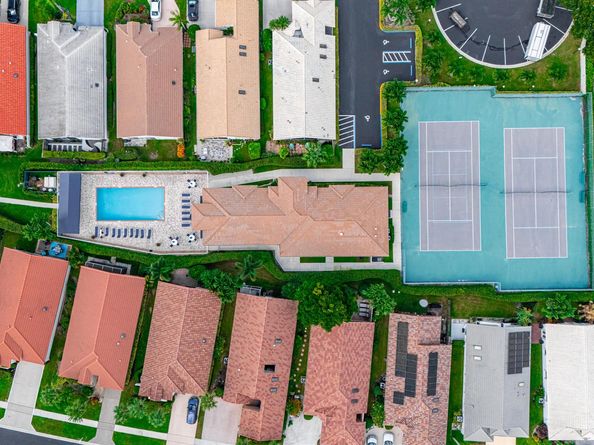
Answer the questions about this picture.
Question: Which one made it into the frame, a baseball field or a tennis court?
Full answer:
Visible in the photo is a tennis court.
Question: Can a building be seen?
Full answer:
Yes, a building is visible in the scene.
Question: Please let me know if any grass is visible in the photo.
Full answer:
Yes, some grass is visible.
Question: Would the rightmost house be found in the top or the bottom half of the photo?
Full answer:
You can find the rightmost house in the bottom half.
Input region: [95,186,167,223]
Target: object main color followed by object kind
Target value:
blue swimming pool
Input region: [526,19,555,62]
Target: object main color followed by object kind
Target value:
white trailer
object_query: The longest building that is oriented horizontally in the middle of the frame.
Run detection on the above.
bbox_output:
[191,176,390,258]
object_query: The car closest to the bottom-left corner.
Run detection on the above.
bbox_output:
[186,396,200,424]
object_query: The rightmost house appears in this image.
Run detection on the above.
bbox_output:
[541,323,594,442]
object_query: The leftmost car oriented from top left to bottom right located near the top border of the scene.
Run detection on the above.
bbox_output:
[449,8,472,34]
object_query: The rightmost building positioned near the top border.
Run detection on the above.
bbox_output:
[273,1,336,139]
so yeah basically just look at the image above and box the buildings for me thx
[195,0,260,138]
[116,20,184,138]
[303,322,375,445]
[384,314,452,445]
[223,293,297,439]
[461,323,531,442]
[58,173,85,234]
[191,176,390,258]
[541,323,594,442]
[140,281,221,402]
[37,20,110,139]
[273,1,336,139]
[0,22,31,136]
[0,248,72,369]
[59,266,147,390]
